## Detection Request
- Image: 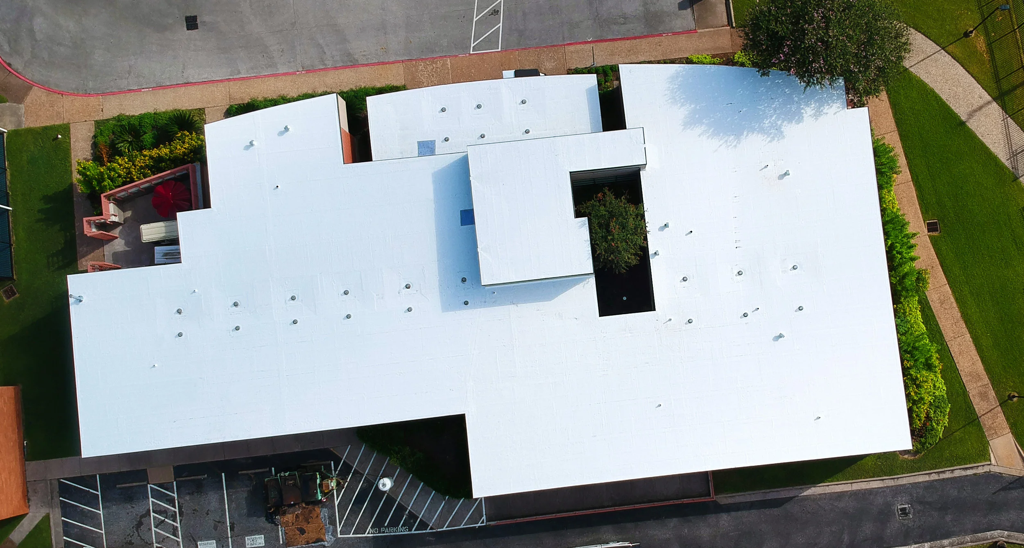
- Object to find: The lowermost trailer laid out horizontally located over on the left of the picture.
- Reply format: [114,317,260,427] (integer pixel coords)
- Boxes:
[264,468,351,507]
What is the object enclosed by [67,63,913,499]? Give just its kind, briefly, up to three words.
building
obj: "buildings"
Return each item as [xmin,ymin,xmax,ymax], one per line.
[67,63,913,499]
[0,386,31,518]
